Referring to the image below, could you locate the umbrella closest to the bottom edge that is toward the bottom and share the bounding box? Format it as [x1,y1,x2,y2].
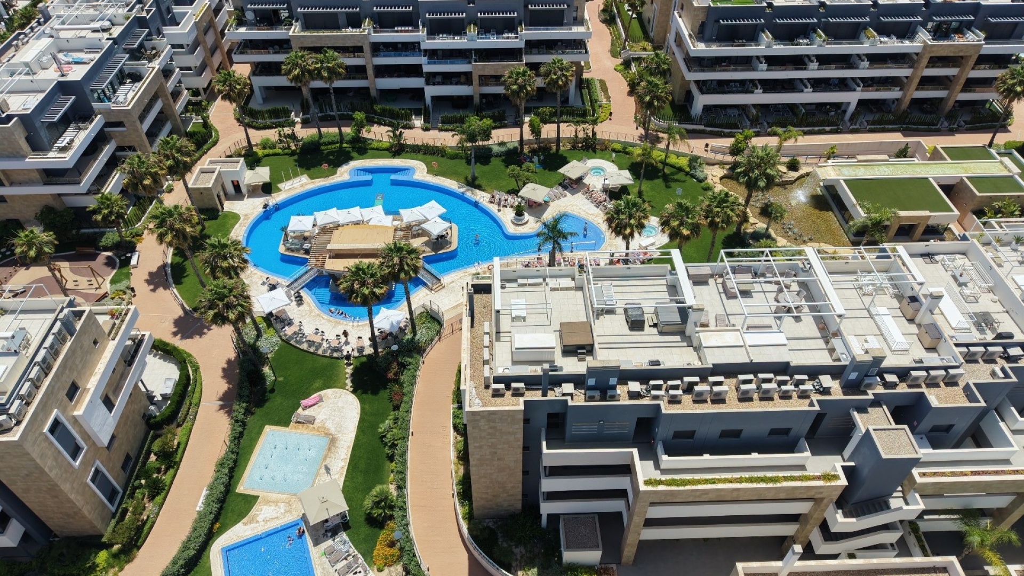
[296,479,352,532]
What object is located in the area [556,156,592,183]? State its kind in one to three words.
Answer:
umbrella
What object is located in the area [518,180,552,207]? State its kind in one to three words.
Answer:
umbrella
